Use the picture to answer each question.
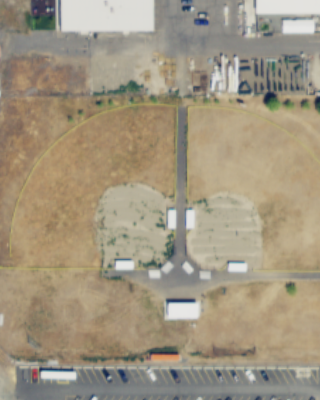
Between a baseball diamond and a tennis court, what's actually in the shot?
baseball diamond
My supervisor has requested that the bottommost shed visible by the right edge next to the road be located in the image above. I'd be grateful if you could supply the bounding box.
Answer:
[282,20,316,34]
